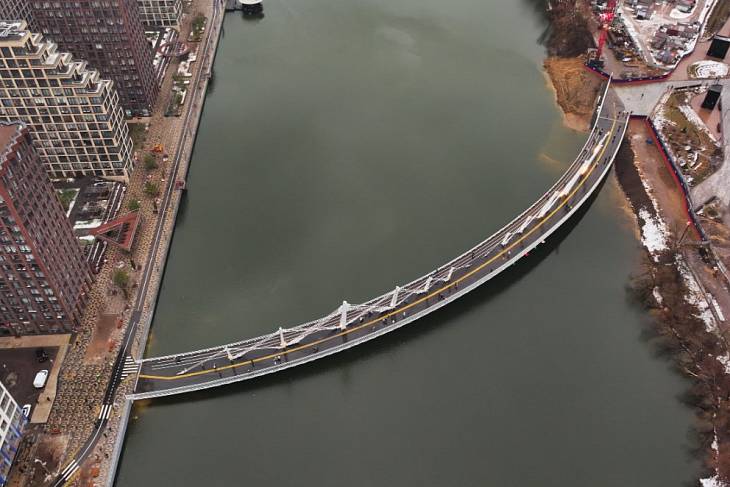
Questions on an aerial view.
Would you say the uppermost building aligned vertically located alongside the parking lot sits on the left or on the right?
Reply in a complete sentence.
You can find the uppermost building aligned vertically located alongside the parking lot on the left side of the picture.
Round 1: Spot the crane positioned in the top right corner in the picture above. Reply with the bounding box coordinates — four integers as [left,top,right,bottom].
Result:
[583,0,622,63]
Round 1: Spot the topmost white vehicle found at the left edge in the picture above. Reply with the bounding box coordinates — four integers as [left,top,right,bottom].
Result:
[31,369,47,386]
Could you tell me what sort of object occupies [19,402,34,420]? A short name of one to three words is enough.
car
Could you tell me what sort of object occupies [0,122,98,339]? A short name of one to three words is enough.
building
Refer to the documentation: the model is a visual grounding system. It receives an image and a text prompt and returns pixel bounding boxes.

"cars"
[19,402,34,420]
[31,369,47,386]
[35,348,46,360]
